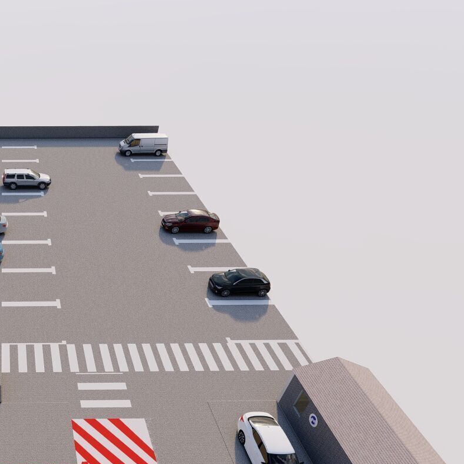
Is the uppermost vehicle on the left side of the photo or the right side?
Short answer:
left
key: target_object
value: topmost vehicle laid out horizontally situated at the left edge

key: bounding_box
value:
[3,167,52,190]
